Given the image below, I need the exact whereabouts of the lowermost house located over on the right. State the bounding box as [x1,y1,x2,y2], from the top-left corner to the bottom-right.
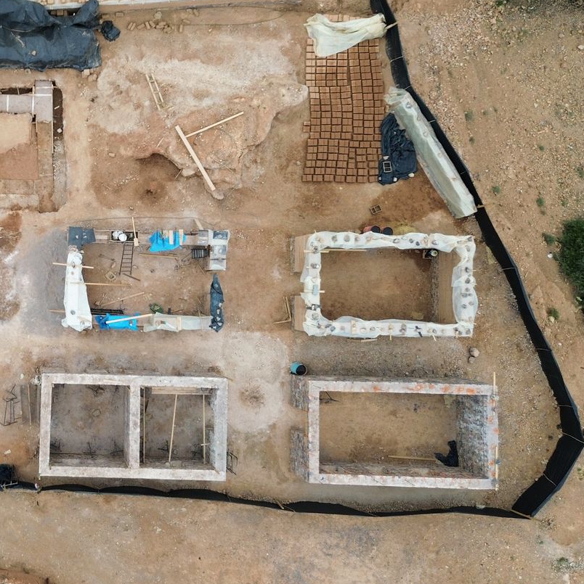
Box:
[290,374,498,491]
